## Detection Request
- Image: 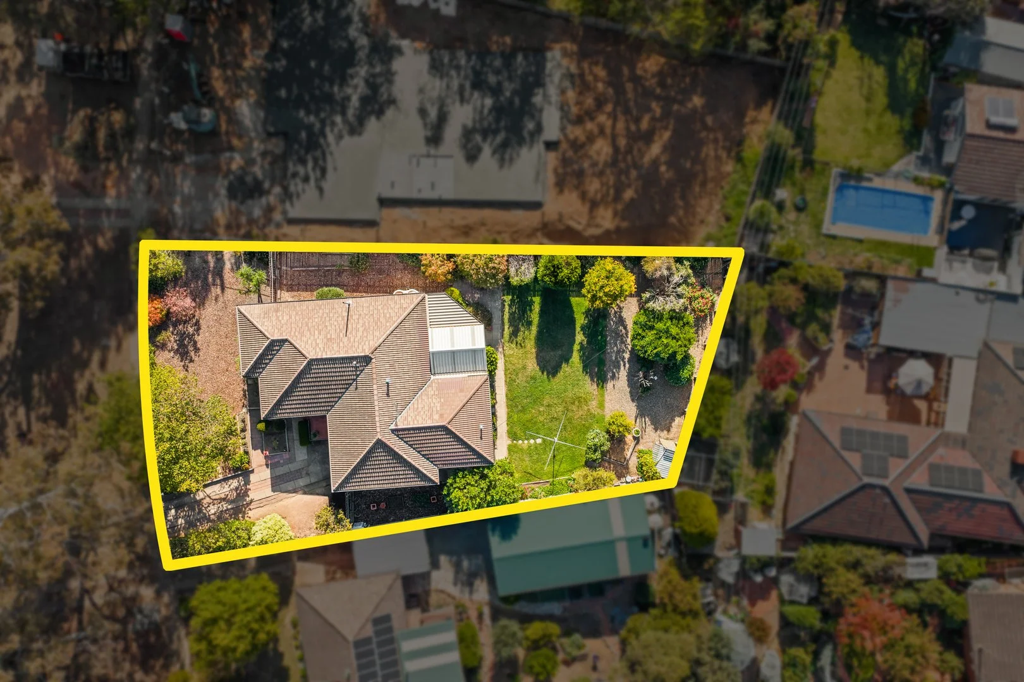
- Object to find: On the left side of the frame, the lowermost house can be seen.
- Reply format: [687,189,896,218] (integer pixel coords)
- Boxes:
[293,572,416,682]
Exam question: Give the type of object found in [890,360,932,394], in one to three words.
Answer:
umbrella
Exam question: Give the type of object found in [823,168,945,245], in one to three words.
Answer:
swimming pool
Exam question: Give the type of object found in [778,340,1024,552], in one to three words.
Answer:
house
